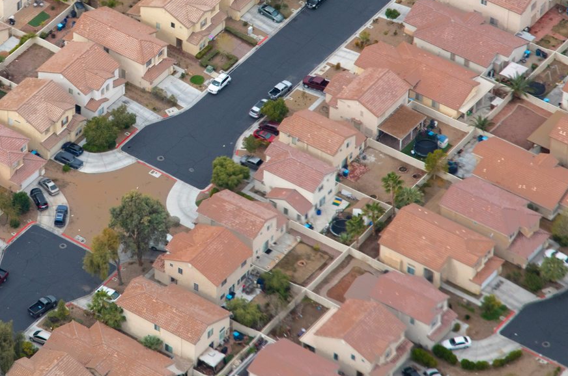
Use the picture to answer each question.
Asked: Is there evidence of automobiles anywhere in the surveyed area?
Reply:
Yes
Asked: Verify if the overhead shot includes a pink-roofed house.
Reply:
Yes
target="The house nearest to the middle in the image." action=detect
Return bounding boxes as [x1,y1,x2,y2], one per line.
[254,144,337,225]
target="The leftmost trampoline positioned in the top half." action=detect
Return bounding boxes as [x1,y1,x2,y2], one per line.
[413,130,440,152]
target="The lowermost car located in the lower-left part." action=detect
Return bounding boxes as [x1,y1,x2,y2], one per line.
[26,329,54,349]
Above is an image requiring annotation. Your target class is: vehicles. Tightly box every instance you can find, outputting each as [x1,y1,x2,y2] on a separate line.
[61,141,85,157]
[259,6,284,22]
[26,296,60,319]
[208,73,231,94]
[247,101,267,120]
[32,192,47,209]
[252,128,279,144]
[442,336,472,350]
[55,152,81,169]
[300,74,331,94]
[255,121,282,137]
[26,329,54,349]
[243,154,266,171]
[546,251,568,267]
[267,80,293,102]
[54,205,68,229]
[0,269,10,285]
[38,177,62,197]
[94,282,124,301]
[307,0,324,8]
